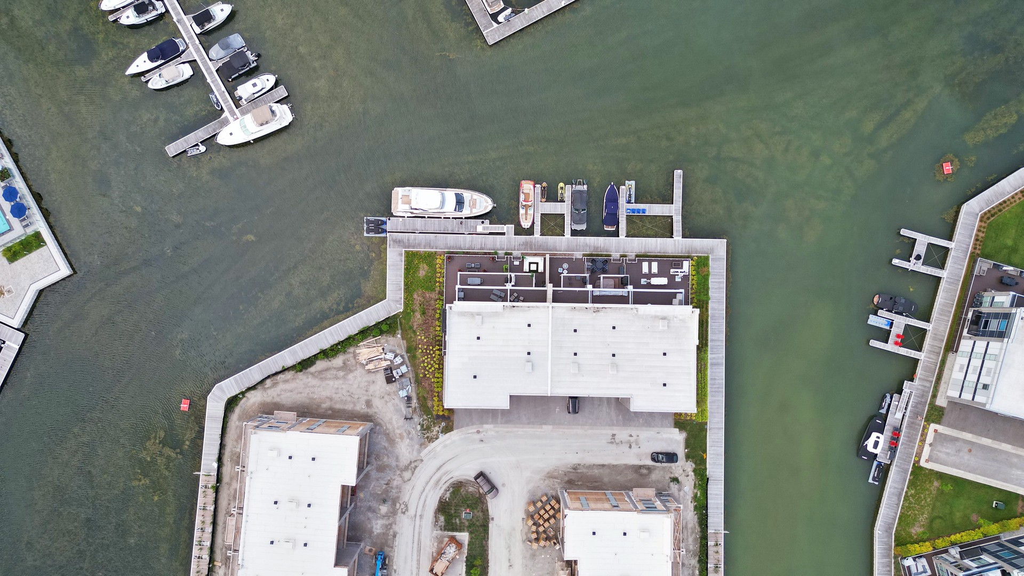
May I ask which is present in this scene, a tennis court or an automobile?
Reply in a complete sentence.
Of the two, only an automobile appears.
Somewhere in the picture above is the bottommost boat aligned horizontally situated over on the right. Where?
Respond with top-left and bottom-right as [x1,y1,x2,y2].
[870,294,917,316]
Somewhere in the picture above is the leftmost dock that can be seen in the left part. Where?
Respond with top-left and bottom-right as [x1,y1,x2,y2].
[0,320,29,397]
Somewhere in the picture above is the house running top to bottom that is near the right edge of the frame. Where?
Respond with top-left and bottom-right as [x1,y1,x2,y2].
[947,258,1024,421]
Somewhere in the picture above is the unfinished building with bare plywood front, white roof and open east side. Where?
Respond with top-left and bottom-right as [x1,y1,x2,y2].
[224,411,381,576]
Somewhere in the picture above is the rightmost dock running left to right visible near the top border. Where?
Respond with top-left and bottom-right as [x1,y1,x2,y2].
[465,0,578,46]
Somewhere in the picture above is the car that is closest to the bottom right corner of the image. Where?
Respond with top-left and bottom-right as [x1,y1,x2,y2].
[650,451,678,465]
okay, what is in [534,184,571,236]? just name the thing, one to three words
pier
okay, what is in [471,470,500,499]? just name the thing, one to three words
car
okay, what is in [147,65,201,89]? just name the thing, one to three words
boat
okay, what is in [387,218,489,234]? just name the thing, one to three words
pier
